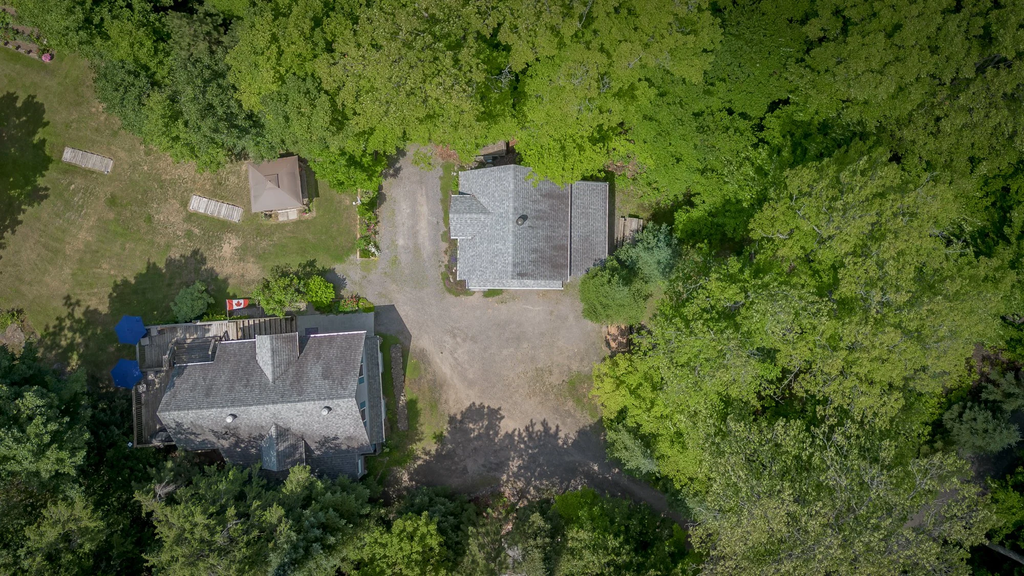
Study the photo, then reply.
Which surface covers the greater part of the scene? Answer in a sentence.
The scene is dominated by trees.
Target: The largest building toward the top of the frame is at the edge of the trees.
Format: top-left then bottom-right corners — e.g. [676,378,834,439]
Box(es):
[450,164,609,290]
